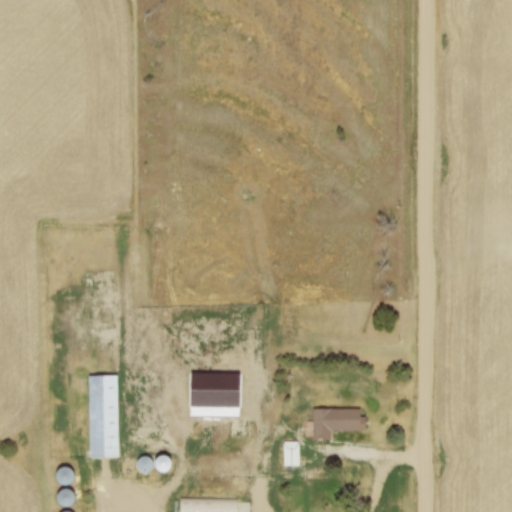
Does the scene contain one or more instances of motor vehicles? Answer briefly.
No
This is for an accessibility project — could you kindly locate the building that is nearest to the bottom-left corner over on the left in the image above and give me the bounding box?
[88,375,120,458]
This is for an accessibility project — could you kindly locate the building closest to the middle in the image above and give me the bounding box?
[190,372,242,421]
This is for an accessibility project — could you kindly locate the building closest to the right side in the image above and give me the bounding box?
[305,408,366,442]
